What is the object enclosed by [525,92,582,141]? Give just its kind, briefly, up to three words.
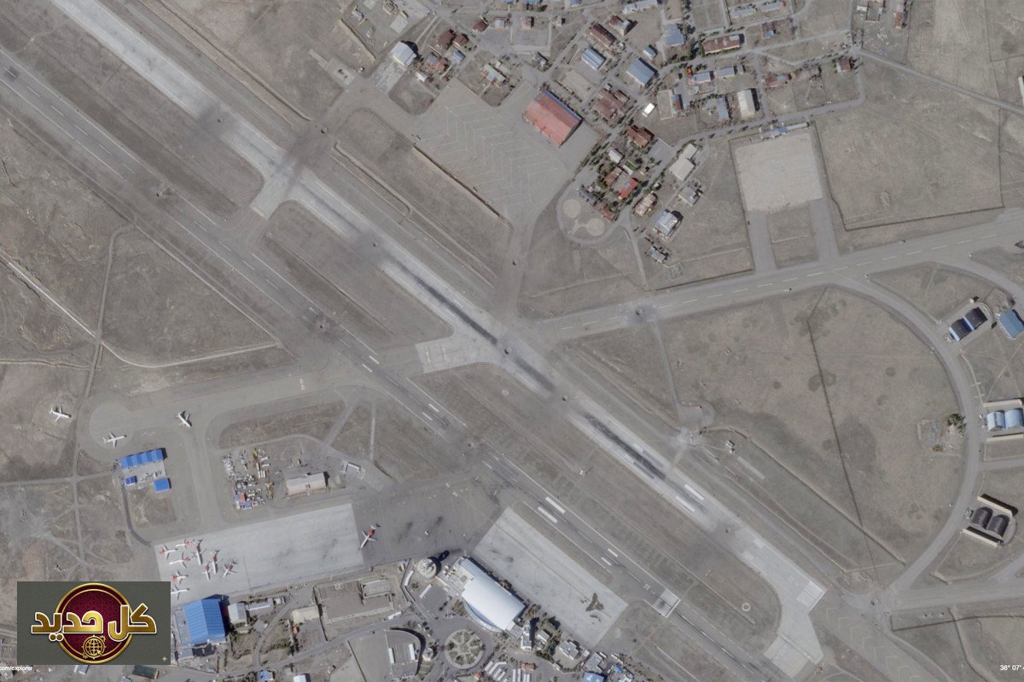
hangar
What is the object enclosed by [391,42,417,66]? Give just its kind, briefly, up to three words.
hangar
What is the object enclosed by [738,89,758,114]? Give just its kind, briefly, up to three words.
building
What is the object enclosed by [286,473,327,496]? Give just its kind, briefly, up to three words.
building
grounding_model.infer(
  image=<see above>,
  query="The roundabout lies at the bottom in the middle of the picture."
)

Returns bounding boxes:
[445,630,483,668]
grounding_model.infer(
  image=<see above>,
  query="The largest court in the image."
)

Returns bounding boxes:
[657,90,677,120]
